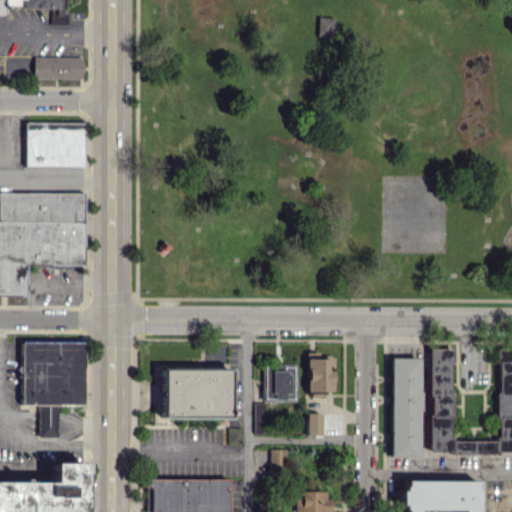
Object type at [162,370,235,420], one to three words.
building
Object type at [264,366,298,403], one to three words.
house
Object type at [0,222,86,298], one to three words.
building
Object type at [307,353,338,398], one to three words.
house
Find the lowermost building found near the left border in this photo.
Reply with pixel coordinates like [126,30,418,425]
[0,464,96,512]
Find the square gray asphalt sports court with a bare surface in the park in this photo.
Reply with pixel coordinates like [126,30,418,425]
[382,176,446,254]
